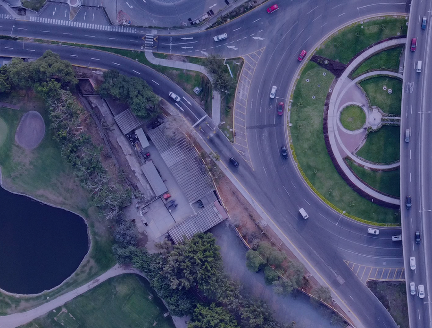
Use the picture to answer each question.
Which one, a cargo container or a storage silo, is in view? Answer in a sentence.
The one in the frame is a cargo container.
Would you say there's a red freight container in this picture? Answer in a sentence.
No, no red freight container is visible in the scene.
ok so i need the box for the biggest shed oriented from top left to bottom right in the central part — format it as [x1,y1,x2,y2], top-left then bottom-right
[147,124,218,203]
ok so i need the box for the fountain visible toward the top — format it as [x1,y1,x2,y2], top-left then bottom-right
[366,107,382,129]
